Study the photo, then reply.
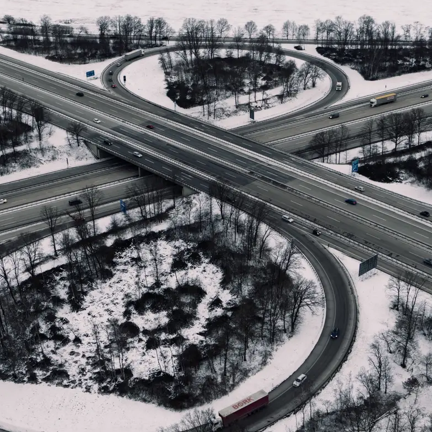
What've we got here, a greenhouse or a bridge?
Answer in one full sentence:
I can see a bridge in this picture.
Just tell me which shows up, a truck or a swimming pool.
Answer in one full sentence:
It is a truck that can be seen here.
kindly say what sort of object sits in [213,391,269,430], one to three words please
truck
